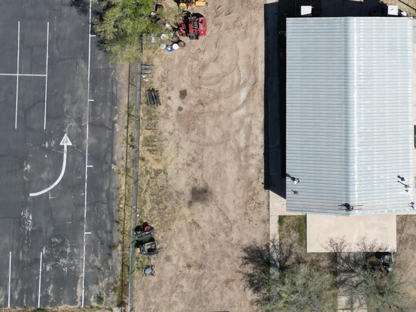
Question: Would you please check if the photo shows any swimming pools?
No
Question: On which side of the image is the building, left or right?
right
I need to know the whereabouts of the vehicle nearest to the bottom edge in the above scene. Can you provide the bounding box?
[136,242,158,255]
